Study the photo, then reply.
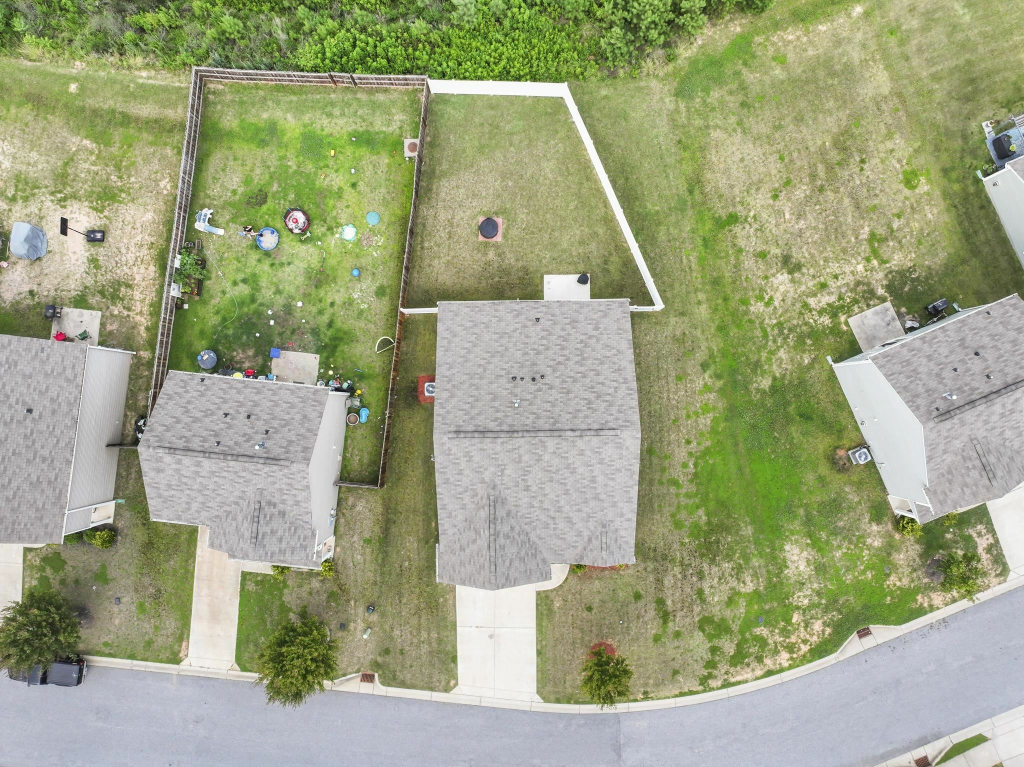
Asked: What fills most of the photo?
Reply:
grass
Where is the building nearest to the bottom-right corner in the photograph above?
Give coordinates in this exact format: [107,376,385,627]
[830,296,1024,529]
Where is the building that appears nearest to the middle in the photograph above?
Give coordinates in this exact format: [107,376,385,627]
[433,298,641,589]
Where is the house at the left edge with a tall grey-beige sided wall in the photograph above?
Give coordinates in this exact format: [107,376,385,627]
[0,334,134,548]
